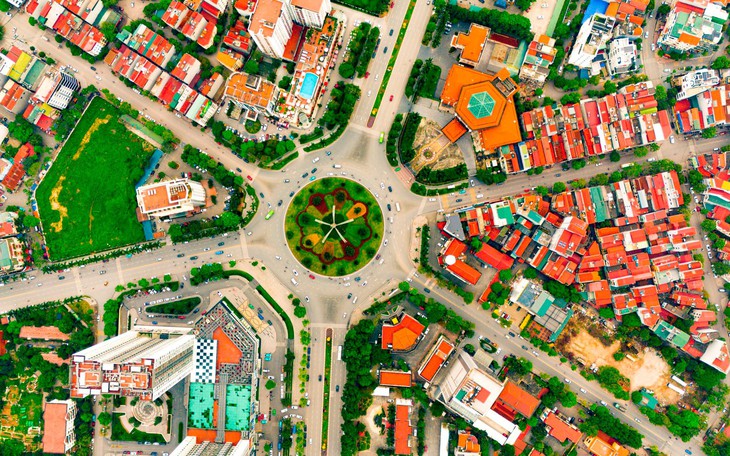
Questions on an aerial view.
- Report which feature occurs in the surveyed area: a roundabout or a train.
roundabout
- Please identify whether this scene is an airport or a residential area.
residential area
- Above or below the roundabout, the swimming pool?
above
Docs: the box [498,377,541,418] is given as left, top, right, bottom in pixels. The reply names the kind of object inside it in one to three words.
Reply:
building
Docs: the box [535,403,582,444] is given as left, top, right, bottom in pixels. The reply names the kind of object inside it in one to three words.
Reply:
house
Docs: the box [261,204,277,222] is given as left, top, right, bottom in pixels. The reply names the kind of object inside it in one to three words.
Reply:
vehicle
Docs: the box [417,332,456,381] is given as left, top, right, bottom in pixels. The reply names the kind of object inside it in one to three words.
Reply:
building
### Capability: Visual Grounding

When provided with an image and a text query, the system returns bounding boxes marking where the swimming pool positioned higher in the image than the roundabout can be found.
[299,72,321,100]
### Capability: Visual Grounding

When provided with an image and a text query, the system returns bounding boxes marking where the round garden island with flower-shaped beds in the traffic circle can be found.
[284,177,384,277]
